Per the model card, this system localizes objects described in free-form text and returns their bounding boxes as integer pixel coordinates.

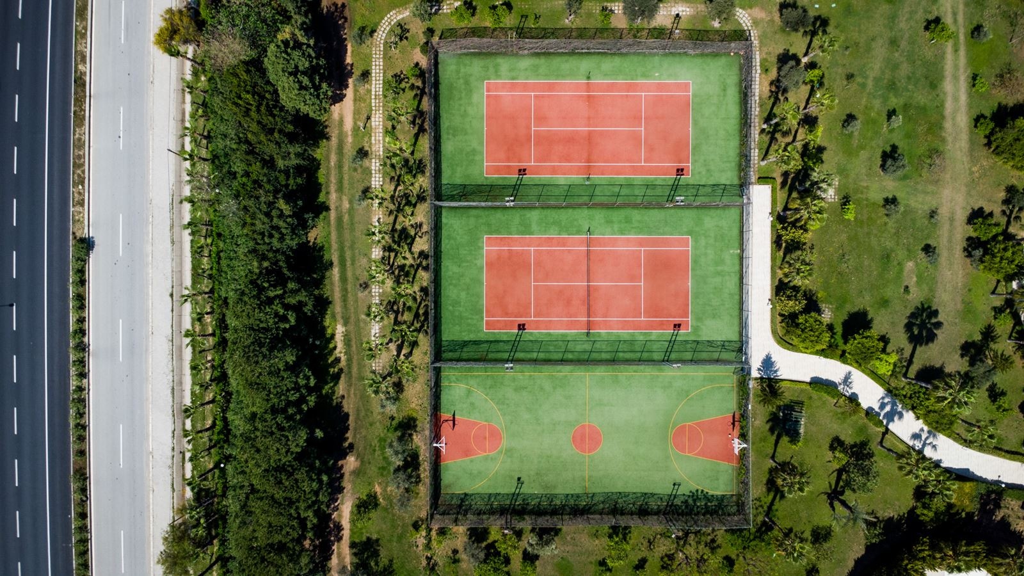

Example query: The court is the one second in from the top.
[433,207,742,361]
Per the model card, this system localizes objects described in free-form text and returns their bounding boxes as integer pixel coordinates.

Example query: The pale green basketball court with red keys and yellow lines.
[433,362,742,516]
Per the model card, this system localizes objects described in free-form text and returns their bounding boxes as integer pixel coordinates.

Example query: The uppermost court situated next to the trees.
[433,52,742,206]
